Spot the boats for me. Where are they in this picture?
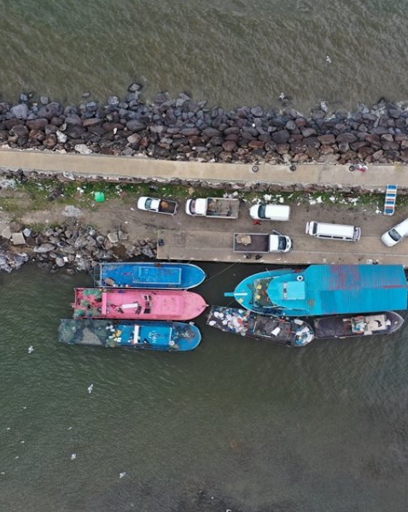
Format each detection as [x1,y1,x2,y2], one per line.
[74,289,210,321]
[224,264,408,315]
[93,263,206,289]
[206,306,315,346]
[313,311,405,339]
[59,319,202,352]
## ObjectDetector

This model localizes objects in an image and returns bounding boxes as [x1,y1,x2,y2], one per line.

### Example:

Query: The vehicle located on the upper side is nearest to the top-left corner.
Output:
[137,195,178,215]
